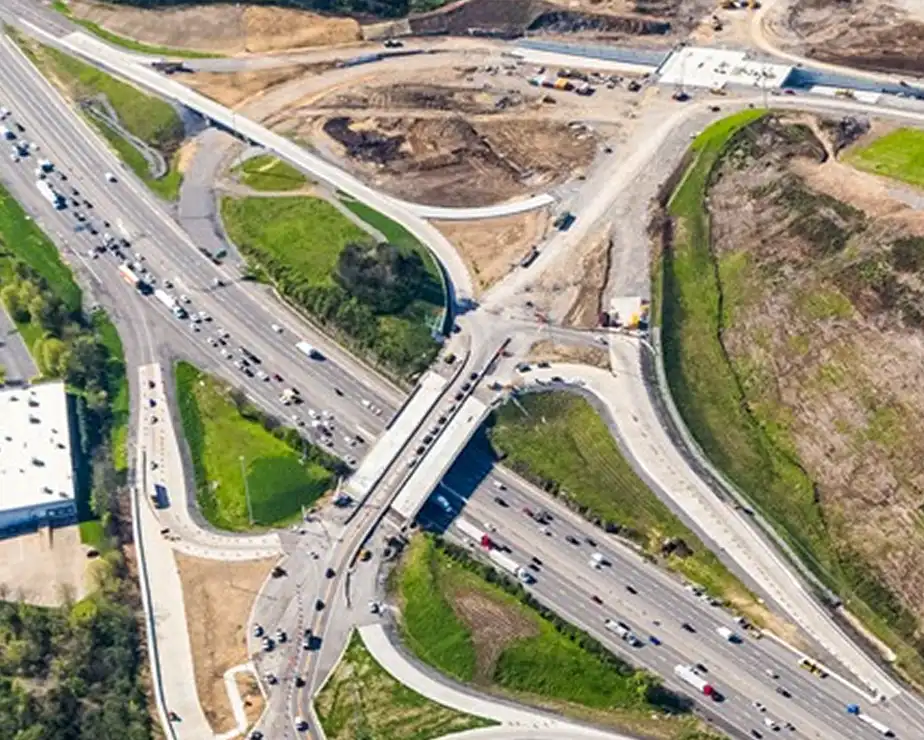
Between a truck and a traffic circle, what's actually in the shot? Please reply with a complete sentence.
There is a truck in the scene.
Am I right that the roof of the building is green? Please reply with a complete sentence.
No, from above the roof of the building looks white.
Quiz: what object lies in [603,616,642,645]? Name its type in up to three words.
truck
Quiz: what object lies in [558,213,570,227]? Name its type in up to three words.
vehicle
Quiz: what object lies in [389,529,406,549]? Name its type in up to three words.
work vehicle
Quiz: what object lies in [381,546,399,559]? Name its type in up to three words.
vehicle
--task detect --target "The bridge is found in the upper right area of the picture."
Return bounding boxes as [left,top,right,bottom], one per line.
[657,42,791,89]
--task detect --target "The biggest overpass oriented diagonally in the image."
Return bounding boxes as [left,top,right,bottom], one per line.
[59,30,489,326]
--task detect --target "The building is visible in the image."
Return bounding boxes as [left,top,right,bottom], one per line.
[0,382,78,522]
